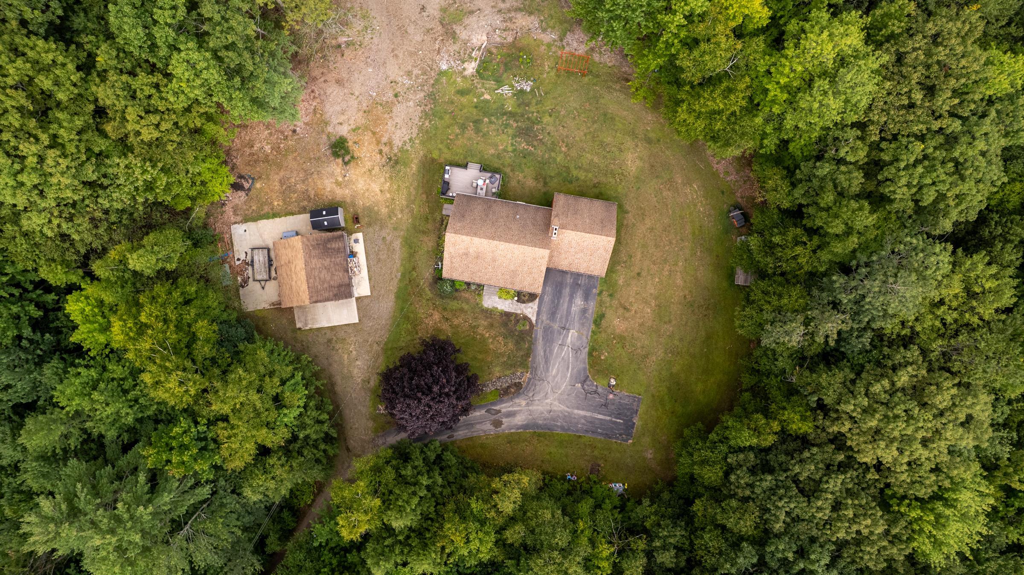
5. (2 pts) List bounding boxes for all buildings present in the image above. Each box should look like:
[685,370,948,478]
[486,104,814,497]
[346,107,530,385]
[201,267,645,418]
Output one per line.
[273,232,356,307]
[310,207,345,230]
[442,191,617,296]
